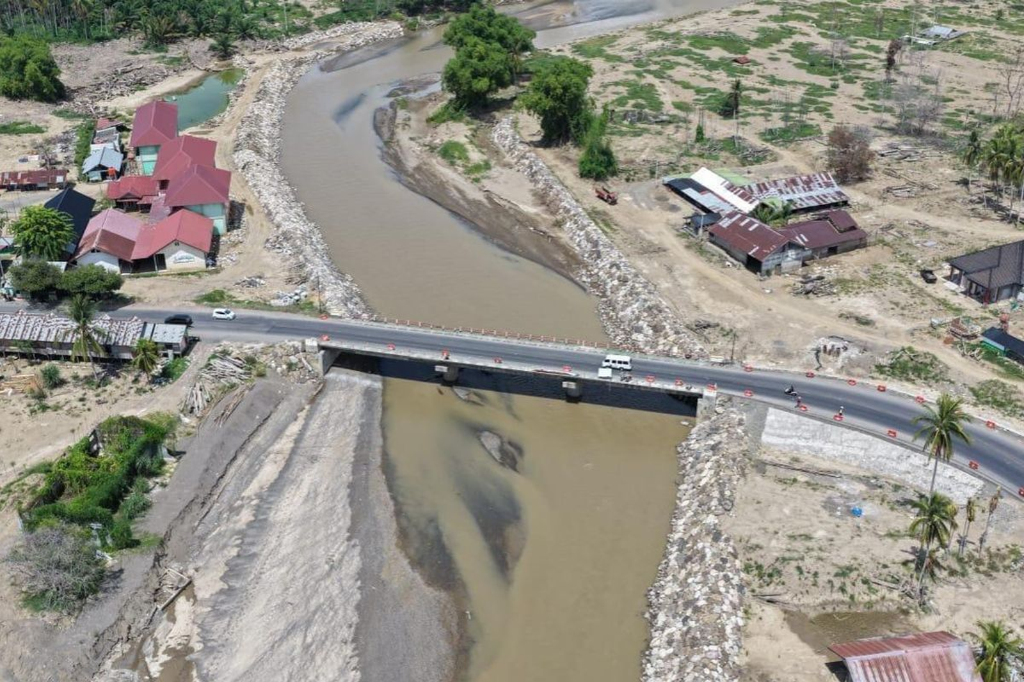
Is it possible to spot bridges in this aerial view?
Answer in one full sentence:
Yes, the photo shows a bridge.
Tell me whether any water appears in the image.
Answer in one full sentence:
Yes, some water is visible.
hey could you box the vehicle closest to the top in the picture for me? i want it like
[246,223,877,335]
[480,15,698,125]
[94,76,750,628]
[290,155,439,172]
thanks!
[594,189,620,206]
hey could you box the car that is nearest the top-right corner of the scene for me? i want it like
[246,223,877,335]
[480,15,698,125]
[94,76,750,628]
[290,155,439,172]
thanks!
[918,269,941,284]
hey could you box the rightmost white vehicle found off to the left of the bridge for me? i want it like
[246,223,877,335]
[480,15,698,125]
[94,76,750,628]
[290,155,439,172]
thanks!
[208,307,238,322]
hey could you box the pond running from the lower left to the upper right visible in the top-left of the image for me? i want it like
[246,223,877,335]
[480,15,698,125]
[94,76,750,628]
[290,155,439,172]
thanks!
[178,70,245,131]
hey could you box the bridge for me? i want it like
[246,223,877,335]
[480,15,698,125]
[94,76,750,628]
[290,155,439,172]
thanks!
[296,313,724,415]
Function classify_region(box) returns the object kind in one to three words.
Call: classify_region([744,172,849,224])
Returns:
shed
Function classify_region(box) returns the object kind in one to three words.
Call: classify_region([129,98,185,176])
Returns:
house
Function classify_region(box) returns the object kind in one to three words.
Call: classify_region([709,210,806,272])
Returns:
barn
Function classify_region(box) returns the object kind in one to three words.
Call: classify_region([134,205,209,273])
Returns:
house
